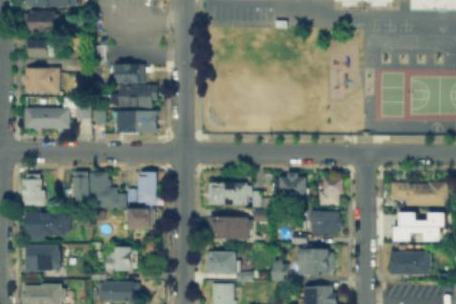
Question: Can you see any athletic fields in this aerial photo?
Yes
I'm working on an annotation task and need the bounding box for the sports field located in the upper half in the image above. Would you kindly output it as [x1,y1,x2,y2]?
[202,27,366,132]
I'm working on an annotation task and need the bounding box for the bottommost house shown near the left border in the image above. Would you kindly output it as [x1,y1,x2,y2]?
[20,284,66,304]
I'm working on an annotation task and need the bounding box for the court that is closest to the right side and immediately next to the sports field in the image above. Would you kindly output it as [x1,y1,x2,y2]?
[376,70,456,120]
